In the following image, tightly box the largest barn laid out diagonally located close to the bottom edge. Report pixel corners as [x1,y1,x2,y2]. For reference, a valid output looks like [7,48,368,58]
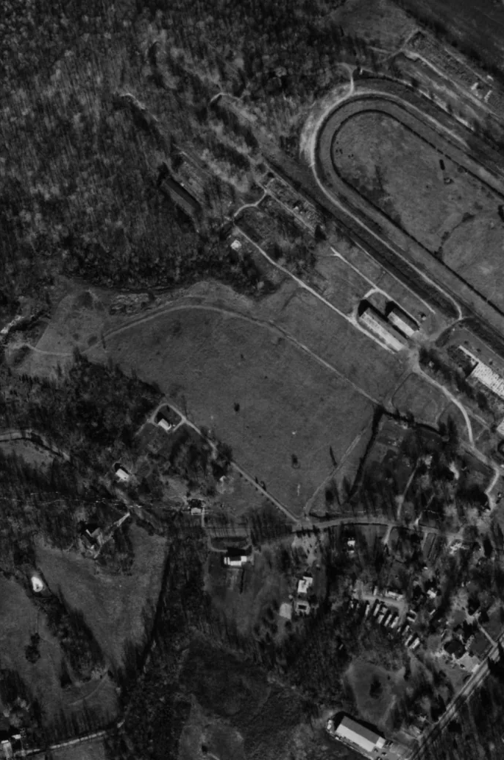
[335,716,379,753]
